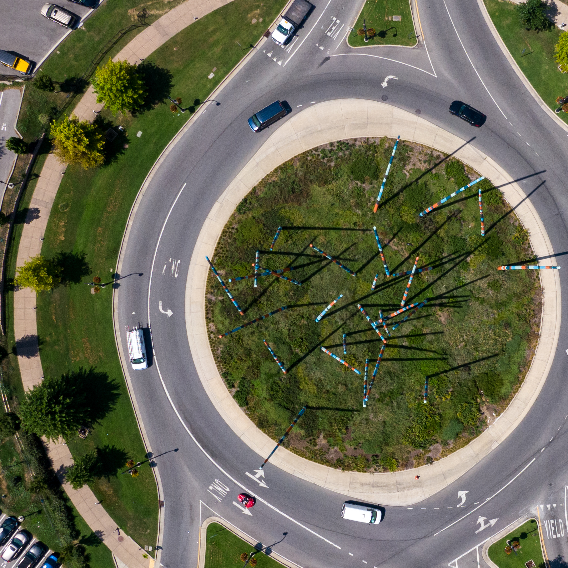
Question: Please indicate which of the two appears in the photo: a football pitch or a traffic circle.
traffic circle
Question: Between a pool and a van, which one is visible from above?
van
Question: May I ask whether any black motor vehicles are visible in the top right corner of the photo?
Yes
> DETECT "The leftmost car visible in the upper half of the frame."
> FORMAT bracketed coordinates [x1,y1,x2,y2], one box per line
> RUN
[0,49,32,76]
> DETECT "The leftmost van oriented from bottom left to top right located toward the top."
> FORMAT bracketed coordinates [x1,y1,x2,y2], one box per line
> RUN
[248,99,288,132]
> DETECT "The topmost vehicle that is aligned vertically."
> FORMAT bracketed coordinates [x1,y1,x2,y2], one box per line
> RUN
[126,322,148,370]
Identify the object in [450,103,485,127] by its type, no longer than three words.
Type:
car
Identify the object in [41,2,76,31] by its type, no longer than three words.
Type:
car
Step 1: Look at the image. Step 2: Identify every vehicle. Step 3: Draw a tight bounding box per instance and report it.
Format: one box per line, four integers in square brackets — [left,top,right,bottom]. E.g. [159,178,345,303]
[1,530,32,565]
[273,0,315,44]
[126,322,148,370]
[41,2,76,31]
[450,103,485,127]
[0,49,32,76]
[238,493,257,510]
[67,0,98,9]
[248,99,288,132]
[0,516,19,549]
[340,502,383,523]
[18,540,50,568]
